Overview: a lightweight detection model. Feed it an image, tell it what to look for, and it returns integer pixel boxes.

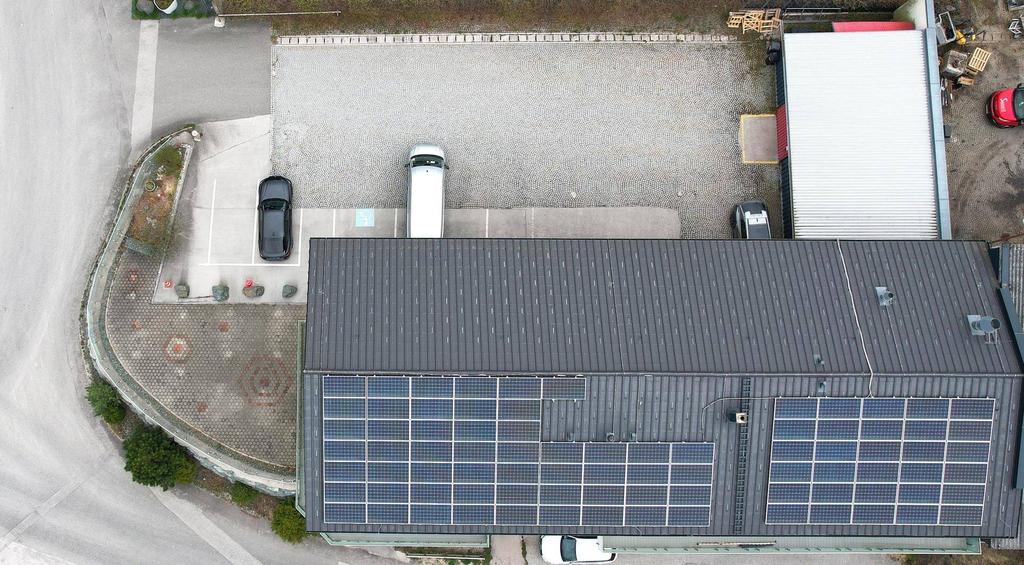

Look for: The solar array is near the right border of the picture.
[766,395,995,527]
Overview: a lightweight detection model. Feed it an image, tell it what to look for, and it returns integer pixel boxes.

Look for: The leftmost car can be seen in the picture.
[256,176,295,262]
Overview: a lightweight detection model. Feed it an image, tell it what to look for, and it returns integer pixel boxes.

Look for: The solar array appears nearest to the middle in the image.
[323,374,713,526]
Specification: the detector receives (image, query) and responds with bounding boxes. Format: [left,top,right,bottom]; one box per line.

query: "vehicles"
[981,87,1024,128]
[405,144,449,237]
[730,200,771,238]
[538,537,617,565]
[256,176,295,262]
